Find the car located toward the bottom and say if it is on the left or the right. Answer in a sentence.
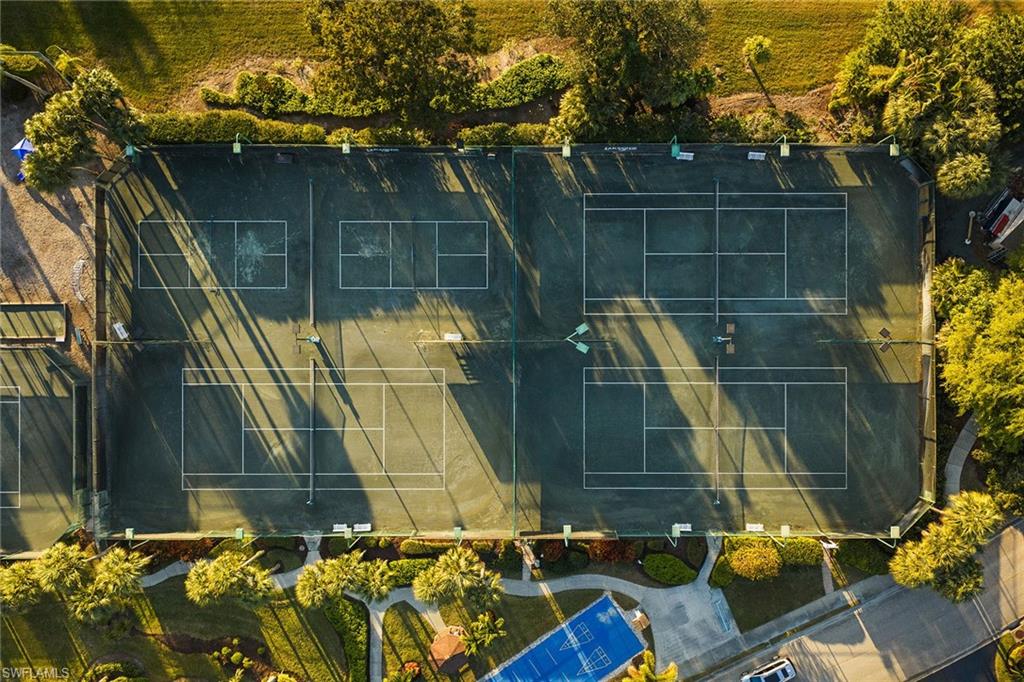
The car located toward the bottom appears in the right half of the scene.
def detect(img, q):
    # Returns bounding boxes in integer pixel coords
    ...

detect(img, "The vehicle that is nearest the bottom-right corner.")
[743,657,797,682]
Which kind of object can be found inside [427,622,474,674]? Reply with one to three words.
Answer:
gazebo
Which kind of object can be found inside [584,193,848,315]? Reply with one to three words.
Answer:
tennis court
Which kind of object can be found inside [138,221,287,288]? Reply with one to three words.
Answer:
sports court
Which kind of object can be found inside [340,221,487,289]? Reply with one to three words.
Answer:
sports court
